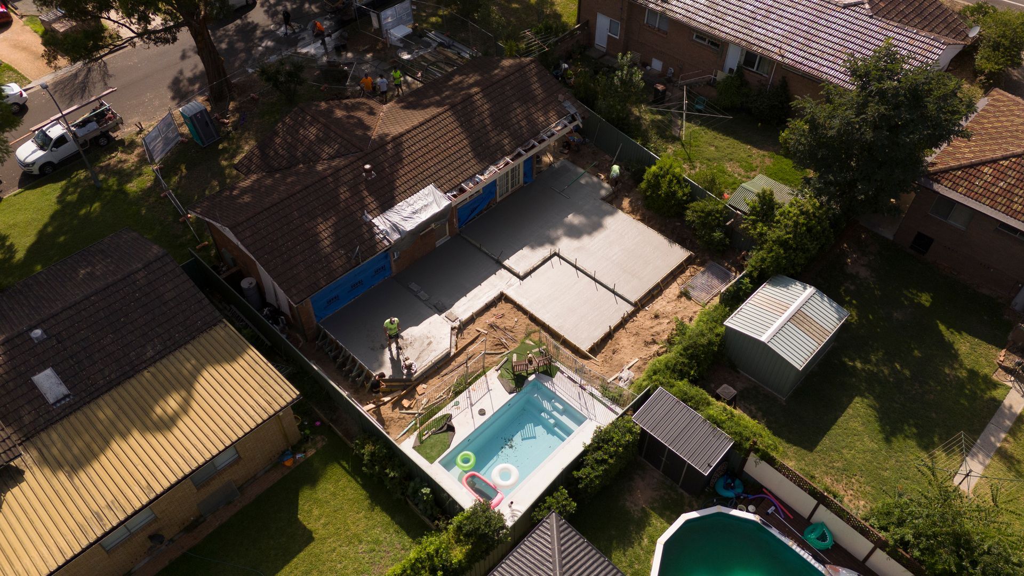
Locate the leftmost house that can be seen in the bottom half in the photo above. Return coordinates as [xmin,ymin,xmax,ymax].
[0,223,305,576]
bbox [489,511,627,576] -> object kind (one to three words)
gazebo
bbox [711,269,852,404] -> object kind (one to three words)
shed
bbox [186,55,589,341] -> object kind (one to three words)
house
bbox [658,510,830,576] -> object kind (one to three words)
swimming pool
